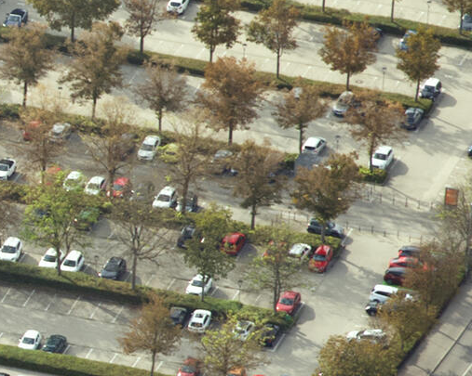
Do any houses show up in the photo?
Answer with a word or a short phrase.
No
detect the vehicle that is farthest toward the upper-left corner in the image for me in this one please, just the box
[3,5,29,29]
